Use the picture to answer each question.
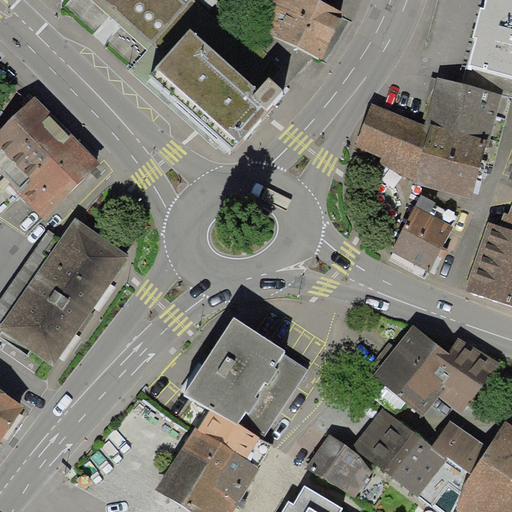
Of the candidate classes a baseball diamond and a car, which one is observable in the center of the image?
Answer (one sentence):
It is a car that can be seen in the center of the image.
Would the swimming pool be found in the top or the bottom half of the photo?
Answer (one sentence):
The swimming pool sits in the bottom half of the picture.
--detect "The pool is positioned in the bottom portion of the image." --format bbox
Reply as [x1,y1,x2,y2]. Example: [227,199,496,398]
[422,460,468,512]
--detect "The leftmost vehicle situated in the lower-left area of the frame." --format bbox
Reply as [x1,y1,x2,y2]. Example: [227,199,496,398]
[23,390,46,408]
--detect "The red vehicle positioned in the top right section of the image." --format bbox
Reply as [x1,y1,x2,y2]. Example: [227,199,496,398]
[385,84,400,106]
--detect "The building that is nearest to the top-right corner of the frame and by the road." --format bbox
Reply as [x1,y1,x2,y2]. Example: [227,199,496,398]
[461,0,512,84]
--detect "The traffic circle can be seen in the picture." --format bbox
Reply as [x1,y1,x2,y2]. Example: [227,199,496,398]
[164,158,322,298]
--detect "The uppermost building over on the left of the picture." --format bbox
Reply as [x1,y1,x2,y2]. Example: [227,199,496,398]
[91,0,196,45]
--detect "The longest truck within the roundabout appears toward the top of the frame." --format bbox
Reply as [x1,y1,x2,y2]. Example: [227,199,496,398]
[249,182,293,210]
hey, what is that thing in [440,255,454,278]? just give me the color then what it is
gray car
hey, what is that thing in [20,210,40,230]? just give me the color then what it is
white car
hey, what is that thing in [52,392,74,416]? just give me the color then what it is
white car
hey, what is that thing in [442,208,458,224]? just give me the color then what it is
white umbrella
